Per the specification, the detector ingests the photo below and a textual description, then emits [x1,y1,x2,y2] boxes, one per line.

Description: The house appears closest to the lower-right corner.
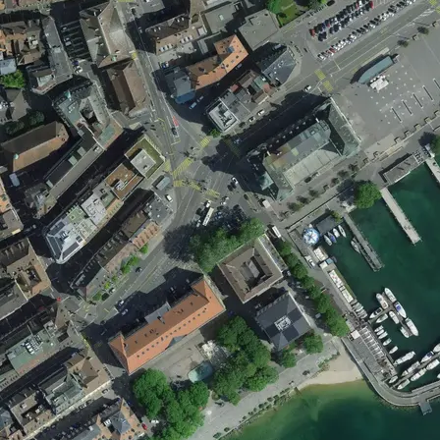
[256,291,314,350]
